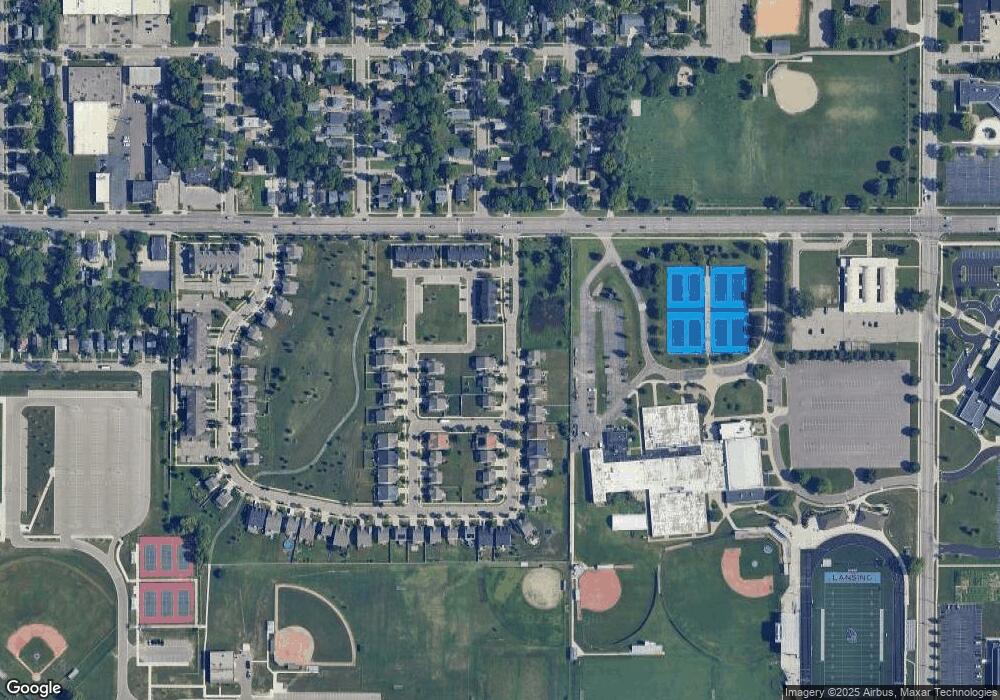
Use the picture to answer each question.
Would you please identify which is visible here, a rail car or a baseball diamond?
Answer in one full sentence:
I can see a baseball diamond in this picture.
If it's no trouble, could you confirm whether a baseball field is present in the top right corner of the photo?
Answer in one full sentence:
Yes, the scene does show a baseball field in the top right corner of the photo.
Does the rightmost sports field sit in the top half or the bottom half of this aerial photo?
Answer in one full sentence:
The rightmost sports field sits in the bottom half of the picture.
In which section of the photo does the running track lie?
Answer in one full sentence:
The running track appears toward the bottom right of the photo.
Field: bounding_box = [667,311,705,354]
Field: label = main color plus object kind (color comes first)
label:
blue tennis court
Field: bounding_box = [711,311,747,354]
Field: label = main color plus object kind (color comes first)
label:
blue tennis court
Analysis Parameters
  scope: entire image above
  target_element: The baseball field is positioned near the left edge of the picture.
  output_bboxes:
[0,555,117,681]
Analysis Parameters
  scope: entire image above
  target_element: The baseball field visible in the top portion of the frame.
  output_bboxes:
[765,62,817,114]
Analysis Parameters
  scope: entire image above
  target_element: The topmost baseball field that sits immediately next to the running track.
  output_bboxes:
[722,545,773,599]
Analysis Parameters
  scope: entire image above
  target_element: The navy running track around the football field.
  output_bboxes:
[801,534,904,700]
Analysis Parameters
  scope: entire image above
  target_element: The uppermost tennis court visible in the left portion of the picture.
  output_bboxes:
[140,536,194,579]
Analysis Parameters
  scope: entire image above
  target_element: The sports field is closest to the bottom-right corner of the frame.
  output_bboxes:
[812,544,893,700]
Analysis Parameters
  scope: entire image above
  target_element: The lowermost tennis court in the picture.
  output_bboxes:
[140,582,194,624]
